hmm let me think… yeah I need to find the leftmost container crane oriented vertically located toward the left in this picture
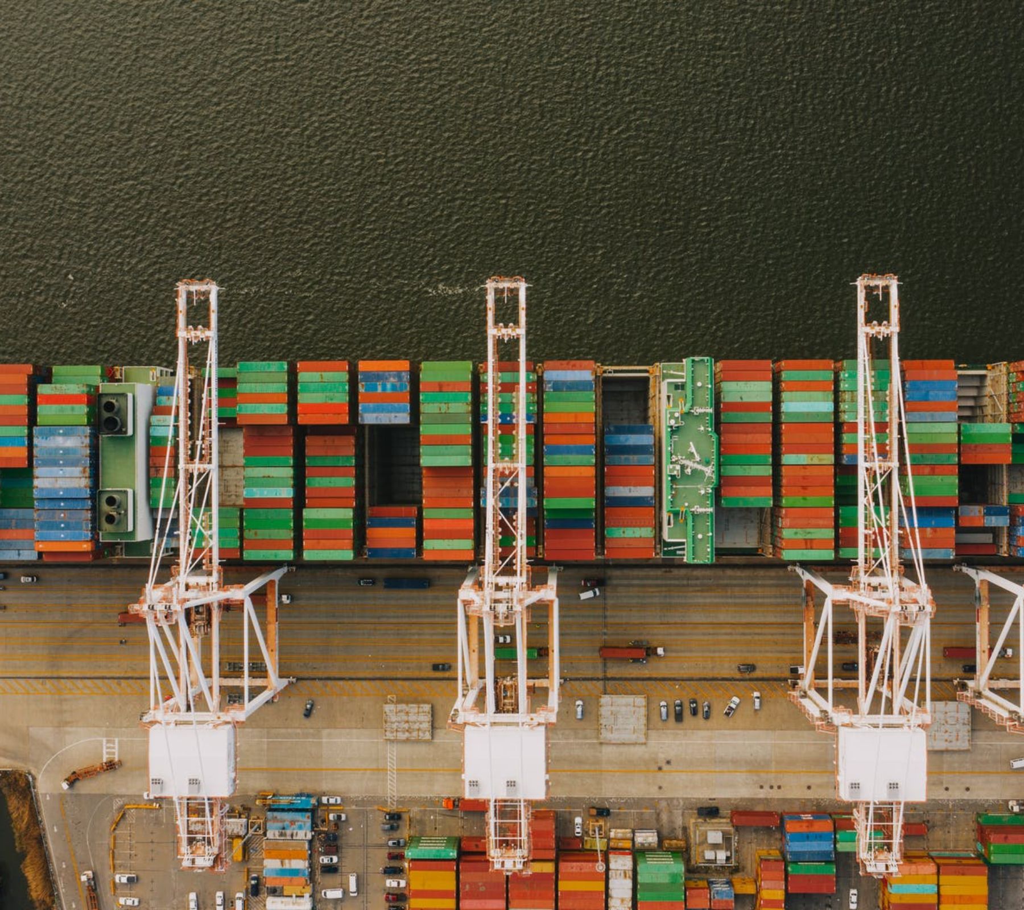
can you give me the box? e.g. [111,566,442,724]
[129,275,293,872]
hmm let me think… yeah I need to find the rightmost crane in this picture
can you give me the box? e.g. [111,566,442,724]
[954,570,1024,738]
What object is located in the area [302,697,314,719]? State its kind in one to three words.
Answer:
vehicle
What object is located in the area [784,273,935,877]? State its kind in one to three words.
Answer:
container crane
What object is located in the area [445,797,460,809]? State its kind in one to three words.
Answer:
vehicle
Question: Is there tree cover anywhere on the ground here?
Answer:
No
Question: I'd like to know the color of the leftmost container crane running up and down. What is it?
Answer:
white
